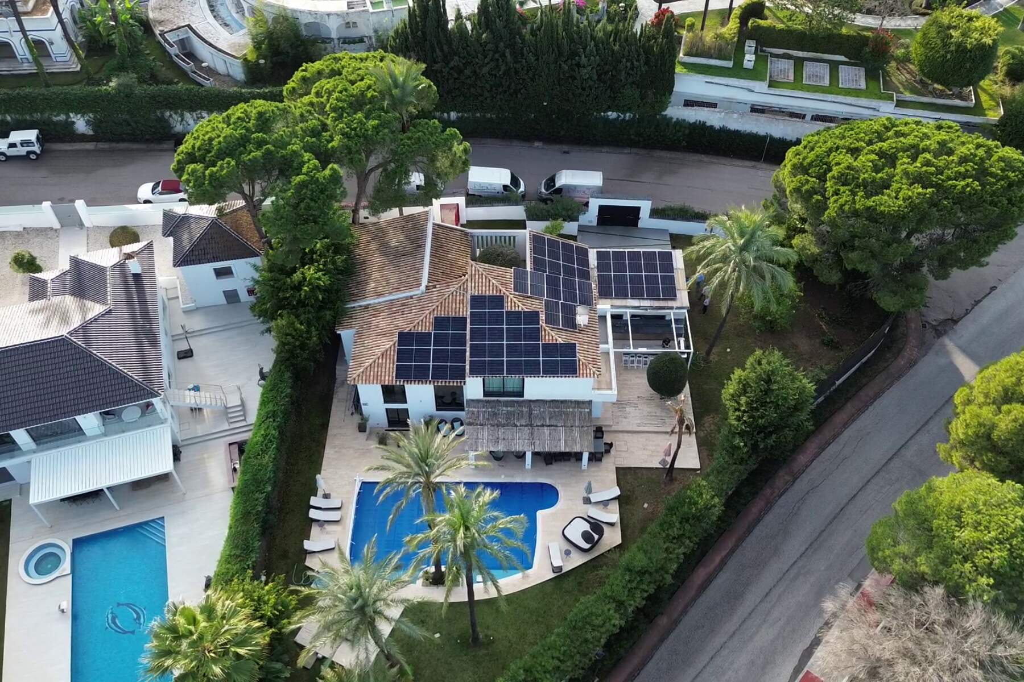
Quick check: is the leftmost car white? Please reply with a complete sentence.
Yes, the leftmost car is white.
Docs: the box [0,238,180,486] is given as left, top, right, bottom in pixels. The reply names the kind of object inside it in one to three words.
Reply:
house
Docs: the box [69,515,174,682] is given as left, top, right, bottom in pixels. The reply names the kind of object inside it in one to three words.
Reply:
swimming pool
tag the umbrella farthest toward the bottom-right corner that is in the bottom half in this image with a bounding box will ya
[657,446,673,468]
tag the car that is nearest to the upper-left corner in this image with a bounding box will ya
[134,180,188,200]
